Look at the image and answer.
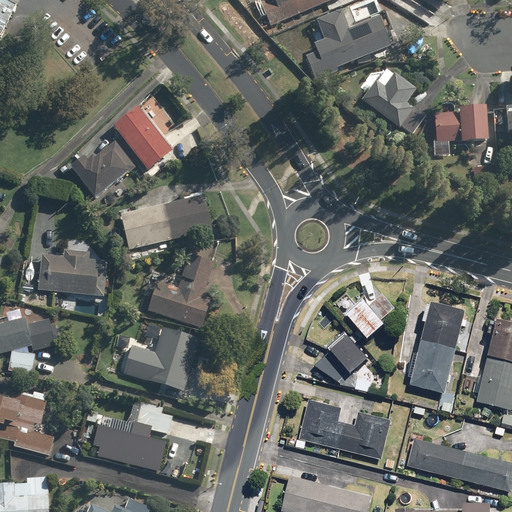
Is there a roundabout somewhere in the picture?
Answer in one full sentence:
Yes, looking at the shot, I can spot a roundabout.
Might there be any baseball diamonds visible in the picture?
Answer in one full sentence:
No, no baseball diamond is visible in the scene.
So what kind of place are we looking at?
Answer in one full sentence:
The picture captures a residential area.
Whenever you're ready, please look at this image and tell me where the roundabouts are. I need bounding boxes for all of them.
[284,208,340,264]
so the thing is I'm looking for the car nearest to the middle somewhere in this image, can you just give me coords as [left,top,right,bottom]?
[296,284,308,300]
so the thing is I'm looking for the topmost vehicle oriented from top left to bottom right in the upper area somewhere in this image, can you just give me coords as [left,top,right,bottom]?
[200,28,213,43]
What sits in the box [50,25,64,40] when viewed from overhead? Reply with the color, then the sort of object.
white car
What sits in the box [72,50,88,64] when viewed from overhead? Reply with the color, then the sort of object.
white vehicle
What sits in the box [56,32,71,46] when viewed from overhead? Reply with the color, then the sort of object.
white vehicle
